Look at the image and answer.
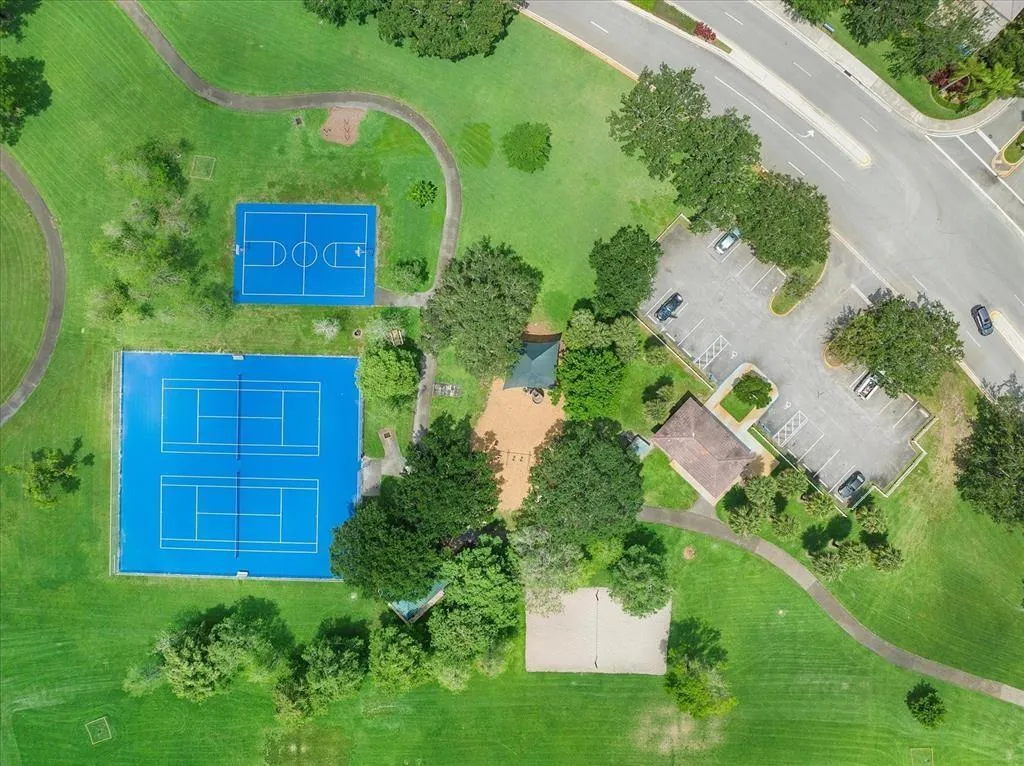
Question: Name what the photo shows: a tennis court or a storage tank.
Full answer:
I can see a tennis court in this picture.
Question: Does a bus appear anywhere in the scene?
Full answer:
No, the scene contains no bus.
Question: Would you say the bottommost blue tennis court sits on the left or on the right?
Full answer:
It is on the left.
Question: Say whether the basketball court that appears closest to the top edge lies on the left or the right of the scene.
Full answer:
The basketball court that appears closest to the top edge is on the left side of the image.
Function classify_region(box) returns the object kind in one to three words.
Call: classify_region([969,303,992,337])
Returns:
car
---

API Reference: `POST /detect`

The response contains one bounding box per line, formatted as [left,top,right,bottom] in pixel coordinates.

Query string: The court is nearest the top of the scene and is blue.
[234,203,376,305]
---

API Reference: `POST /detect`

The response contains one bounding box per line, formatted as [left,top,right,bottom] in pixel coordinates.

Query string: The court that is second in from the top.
[120,352,360,467]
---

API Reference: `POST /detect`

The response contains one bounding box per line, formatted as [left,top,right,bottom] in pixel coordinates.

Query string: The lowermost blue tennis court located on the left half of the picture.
[119,463,358,579]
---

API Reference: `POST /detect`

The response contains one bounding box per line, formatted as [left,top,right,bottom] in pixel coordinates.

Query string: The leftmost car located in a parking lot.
[654,291,685,322]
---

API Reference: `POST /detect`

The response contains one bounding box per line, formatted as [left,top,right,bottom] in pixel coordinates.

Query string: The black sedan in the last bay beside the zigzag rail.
[837,469,866,498]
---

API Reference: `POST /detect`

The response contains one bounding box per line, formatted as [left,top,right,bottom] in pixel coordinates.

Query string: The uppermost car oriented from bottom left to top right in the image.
[714,227,740,255]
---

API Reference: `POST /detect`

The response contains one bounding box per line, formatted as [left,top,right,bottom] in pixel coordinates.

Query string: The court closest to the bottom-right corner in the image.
[524,587,674,677]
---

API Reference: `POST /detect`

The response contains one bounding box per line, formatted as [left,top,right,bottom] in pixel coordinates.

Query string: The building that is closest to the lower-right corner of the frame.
[653,397,756,502]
